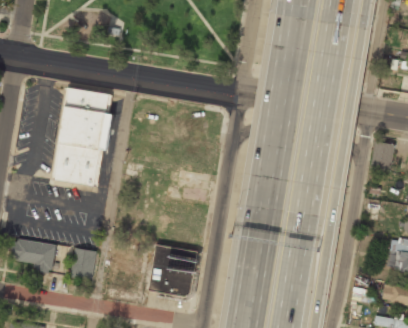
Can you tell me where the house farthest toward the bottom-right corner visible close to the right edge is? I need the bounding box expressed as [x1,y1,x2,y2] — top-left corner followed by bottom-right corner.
[374,314,408,328]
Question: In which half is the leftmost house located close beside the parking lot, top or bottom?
bottom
